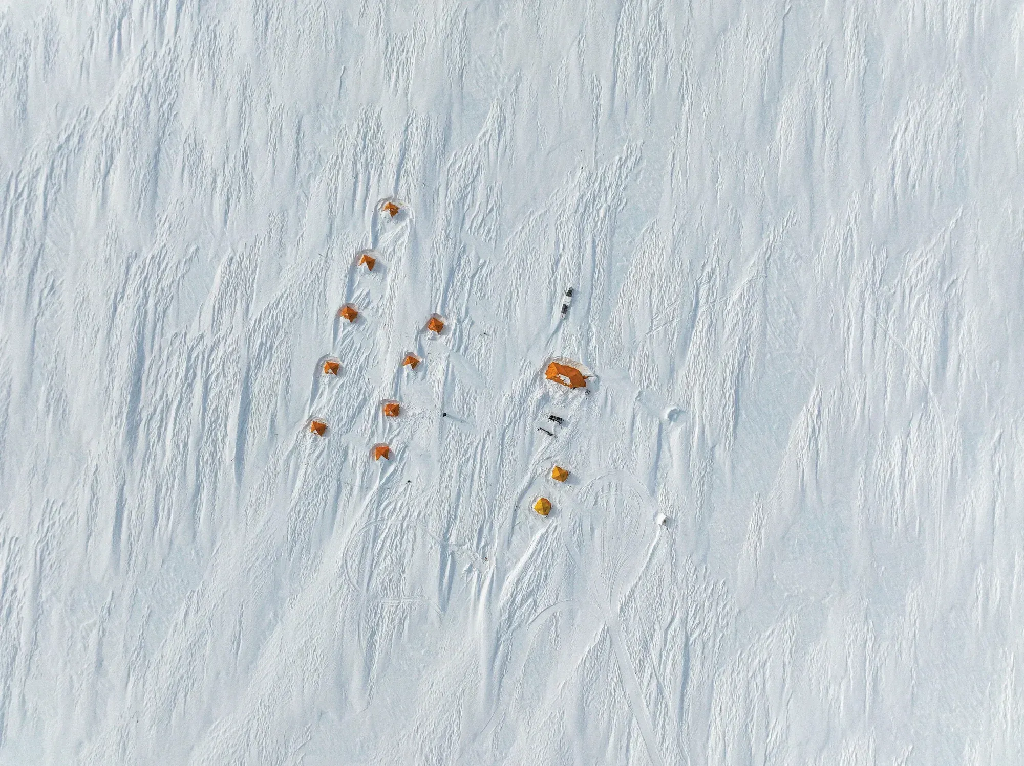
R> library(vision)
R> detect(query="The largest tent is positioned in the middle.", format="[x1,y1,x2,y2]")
[545,362,592,390]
